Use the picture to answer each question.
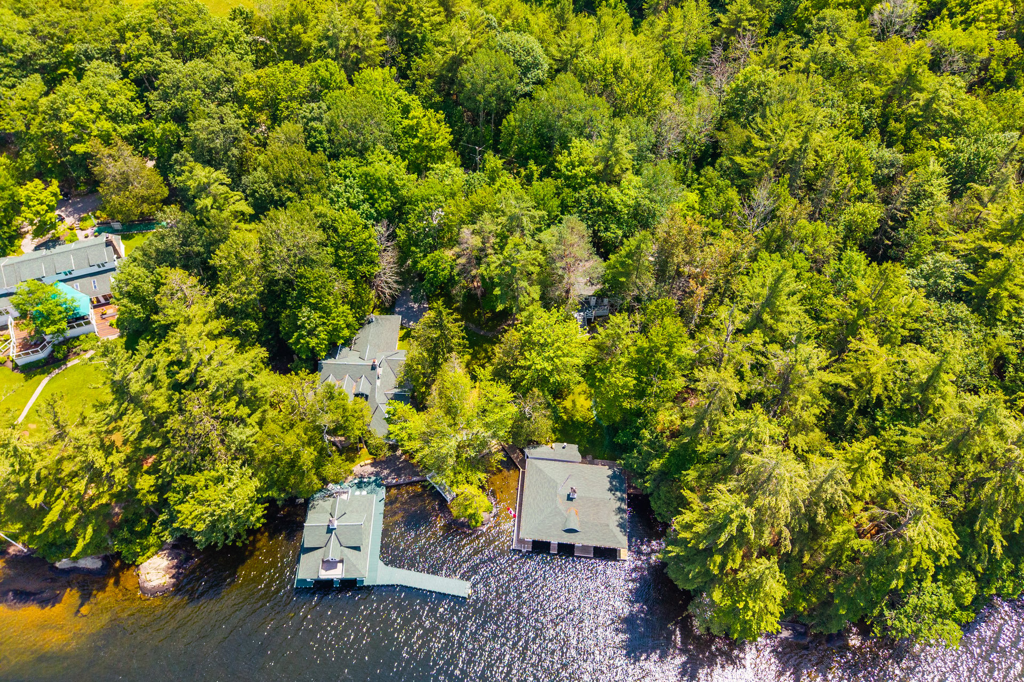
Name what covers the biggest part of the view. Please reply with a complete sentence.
What you mostly see from above here is trees.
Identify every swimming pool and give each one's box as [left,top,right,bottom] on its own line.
[89,220,168,235]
